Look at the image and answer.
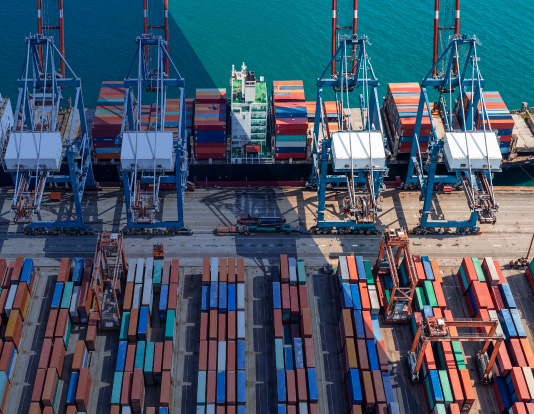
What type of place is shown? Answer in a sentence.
The area seen from above is a port.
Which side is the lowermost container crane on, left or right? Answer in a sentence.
The lowermost container crane is on the right side of the image.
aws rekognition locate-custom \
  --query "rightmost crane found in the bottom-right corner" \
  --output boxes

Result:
[408,313,505,382]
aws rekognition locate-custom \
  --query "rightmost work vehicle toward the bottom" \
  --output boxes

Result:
[500,245,534,283]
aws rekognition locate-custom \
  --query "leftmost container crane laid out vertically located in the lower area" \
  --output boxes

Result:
[88,236,127,321]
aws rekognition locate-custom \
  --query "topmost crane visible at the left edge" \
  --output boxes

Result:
[1,0,105,232]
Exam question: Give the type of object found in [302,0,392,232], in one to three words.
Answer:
container crane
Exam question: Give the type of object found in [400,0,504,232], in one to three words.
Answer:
container crane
